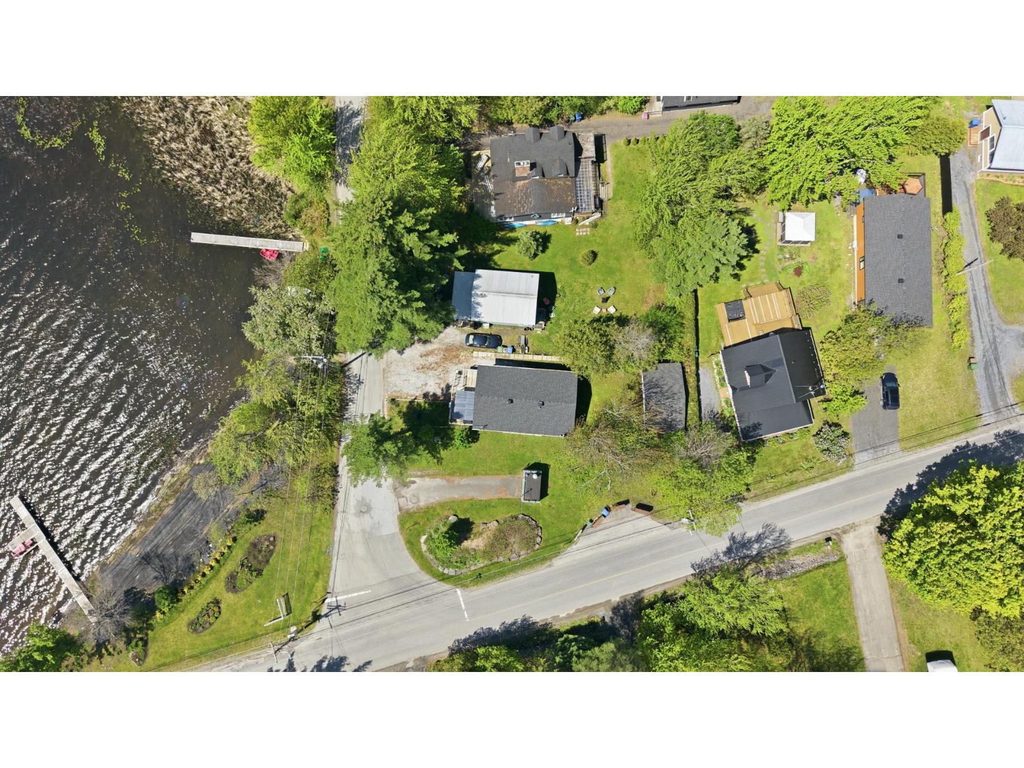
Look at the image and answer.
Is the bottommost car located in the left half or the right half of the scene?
right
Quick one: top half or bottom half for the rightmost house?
top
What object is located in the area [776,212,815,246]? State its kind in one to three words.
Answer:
gazebo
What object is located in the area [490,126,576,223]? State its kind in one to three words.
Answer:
house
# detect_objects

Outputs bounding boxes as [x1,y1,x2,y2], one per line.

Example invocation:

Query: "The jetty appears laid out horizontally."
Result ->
[191,233,304,251]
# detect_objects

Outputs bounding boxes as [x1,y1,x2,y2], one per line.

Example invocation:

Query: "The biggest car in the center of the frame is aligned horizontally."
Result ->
[465,331,503,349]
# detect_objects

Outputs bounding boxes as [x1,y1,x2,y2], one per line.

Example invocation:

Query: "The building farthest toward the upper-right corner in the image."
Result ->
[978,100,1024,180]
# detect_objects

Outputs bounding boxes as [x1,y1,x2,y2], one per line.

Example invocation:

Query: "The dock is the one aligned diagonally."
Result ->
[6,496,100,622]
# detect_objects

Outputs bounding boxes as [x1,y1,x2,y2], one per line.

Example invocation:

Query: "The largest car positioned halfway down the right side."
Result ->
[879,373,901,409]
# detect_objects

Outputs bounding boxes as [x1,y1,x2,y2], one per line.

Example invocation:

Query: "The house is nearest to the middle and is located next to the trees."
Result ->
[472,364,577,437]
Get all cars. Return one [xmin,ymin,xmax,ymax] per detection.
[879,373,901,409]
[465,331,503,349]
